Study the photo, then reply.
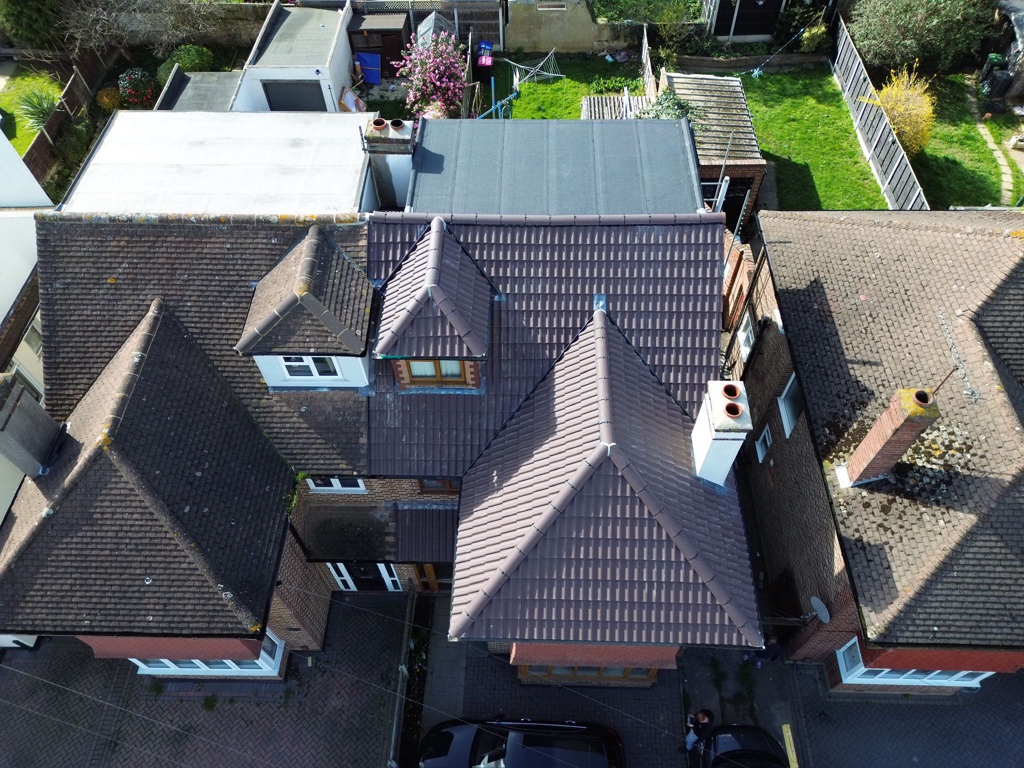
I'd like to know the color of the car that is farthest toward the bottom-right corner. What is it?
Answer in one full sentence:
From above, the car that is farthest toward the bottom-right corner appears black.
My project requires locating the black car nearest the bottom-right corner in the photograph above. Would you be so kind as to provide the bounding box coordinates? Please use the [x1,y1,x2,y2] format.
[696,723,787,768]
